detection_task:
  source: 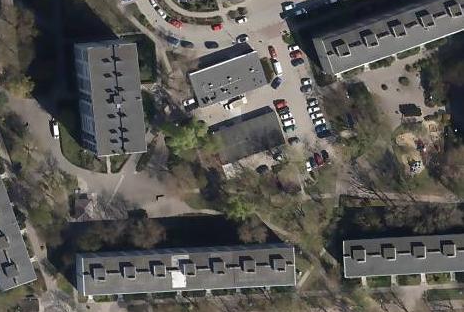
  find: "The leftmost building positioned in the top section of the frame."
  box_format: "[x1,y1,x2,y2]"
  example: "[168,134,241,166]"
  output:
[76,40,147,158]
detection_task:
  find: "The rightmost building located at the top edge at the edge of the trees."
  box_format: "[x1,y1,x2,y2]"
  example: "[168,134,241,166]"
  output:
[313,0,464,79]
